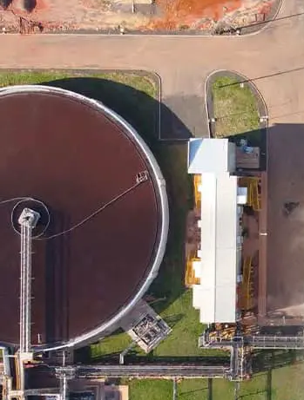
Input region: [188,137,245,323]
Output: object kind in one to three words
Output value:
house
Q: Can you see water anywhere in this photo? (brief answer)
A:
Yes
